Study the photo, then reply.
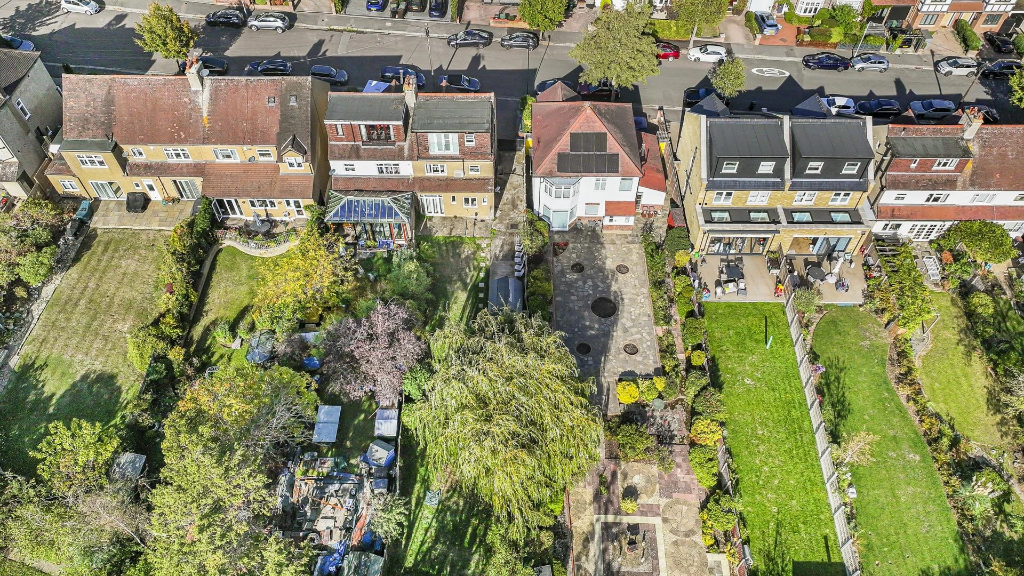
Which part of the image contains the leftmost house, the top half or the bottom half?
top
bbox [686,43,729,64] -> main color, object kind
white car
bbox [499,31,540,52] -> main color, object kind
gray car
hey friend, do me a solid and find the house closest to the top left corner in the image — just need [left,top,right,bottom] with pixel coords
[0,40,57,177]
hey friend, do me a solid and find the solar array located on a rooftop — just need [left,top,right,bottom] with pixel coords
[558,132,619,172]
